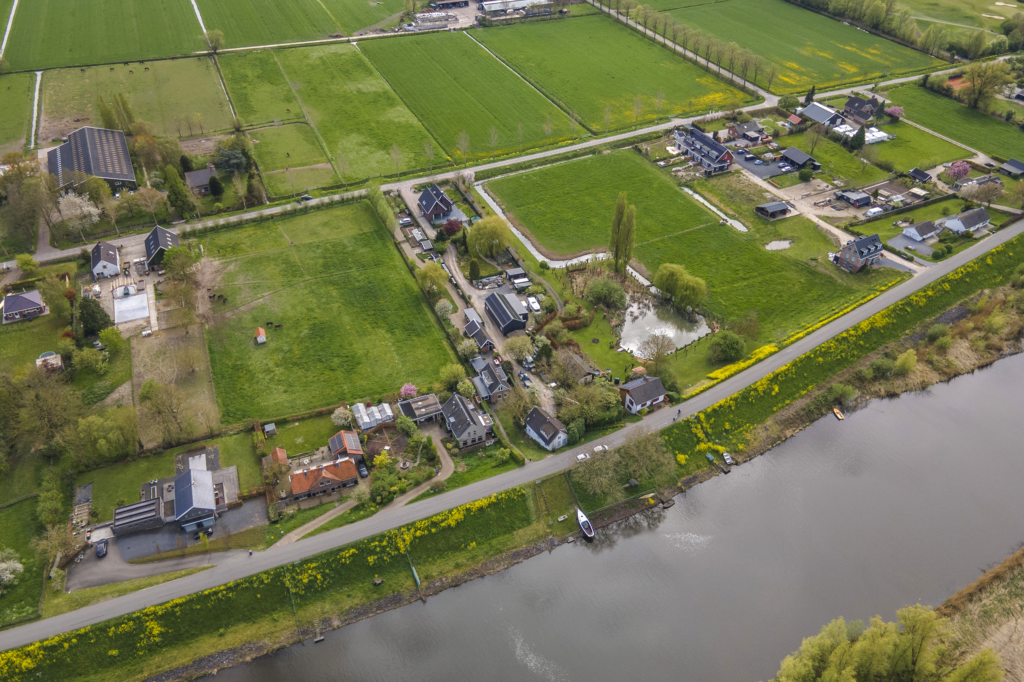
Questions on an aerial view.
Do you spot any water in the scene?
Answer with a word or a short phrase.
Yes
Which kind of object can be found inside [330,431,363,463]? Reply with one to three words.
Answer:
barn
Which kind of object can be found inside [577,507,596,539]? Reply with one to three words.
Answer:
boat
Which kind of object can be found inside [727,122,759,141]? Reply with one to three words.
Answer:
house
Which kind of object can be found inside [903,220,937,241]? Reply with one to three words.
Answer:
building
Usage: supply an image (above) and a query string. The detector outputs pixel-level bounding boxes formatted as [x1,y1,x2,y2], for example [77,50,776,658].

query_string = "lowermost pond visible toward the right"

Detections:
[620,300,711,360]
